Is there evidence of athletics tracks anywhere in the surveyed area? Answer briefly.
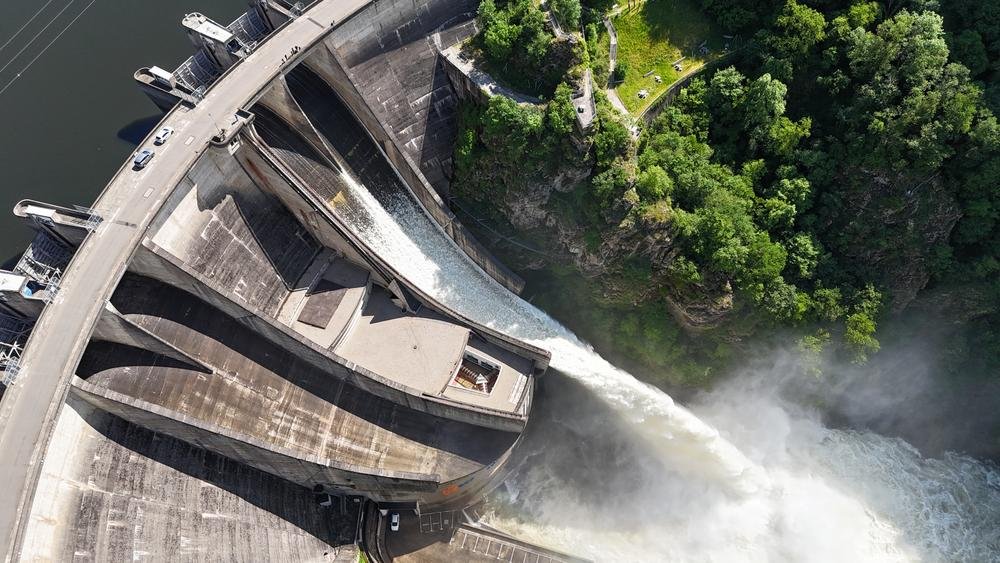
No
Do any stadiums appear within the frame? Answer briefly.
No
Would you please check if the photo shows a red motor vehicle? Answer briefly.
No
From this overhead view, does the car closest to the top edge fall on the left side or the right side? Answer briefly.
left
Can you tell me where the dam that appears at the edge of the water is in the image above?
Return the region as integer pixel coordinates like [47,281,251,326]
[0,0,548,563]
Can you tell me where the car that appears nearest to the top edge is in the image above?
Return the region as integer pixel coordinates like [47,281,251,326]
[150,125,177,145]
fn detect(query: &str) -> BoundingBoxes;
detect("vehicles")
[150,125,177,145]
[128,147,158,171]
[391,512,400,532]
